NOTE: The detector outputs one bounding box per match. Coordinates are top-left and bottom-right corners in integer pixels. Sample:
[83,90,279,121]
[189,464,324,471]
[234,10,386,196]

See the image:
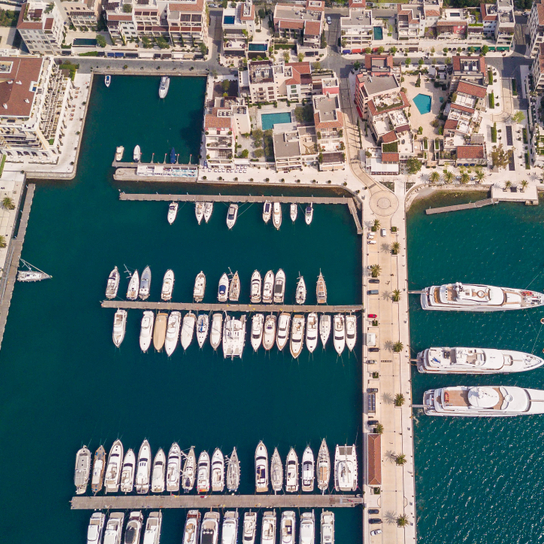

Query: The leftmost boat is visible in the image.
[19,260,53,282]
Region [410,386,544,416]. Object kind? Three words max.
boat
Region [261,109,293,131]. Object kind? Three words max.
swimming pool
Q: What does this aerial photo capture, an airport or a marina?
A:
marina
